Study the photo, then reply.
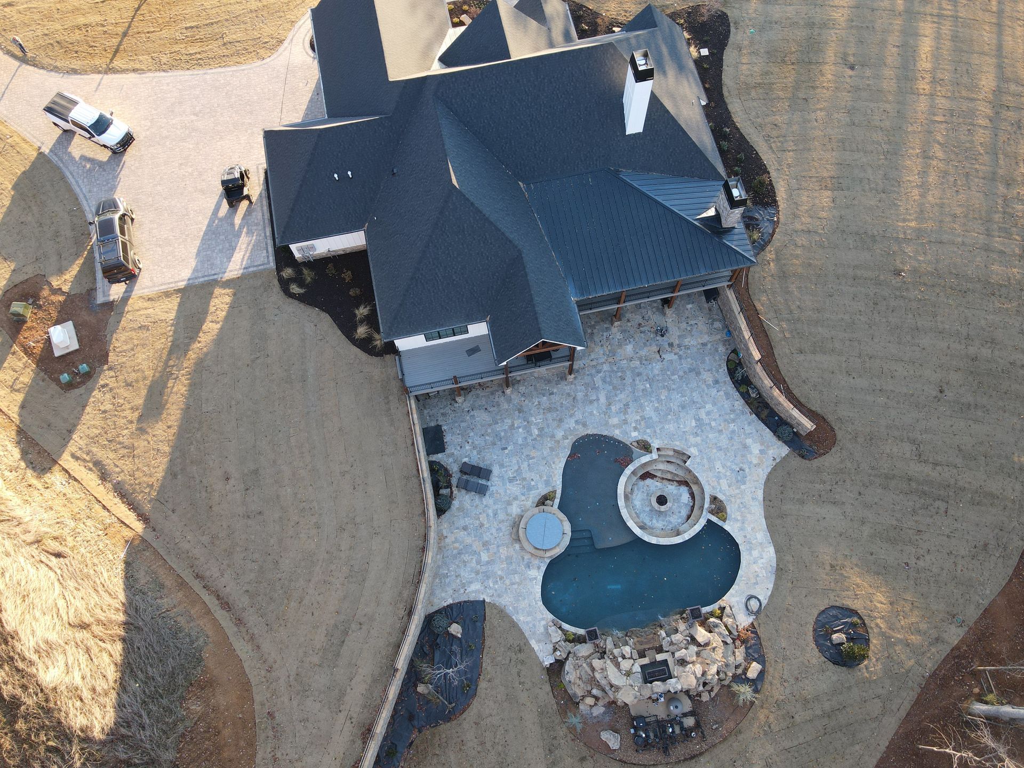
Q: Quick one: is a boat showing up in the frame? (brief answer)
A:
No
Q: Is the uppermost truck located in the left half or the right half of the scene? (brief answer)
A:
left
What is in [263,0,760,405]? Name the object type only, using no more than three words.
house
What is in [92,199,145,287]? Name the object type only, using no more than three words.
car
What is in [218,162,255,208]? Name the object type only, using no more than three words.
vehicle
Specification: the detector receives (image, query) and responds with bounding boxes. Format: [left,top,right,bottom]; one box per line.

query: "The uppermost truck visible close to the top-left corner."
[43,93,135,157]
